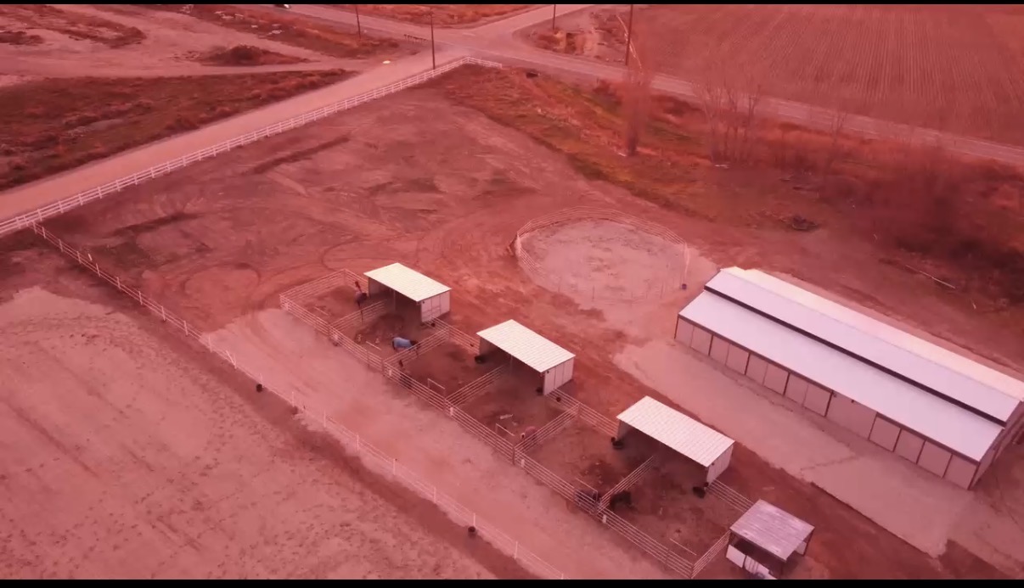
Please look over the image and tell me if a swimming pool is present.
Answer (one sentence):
No, I can see no swimming pool in this picture.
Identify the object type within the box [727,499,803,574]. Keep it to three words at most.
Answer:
shed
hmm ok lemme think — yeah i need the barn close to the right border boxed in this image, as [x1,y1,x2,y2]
[677,266,1024,489]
